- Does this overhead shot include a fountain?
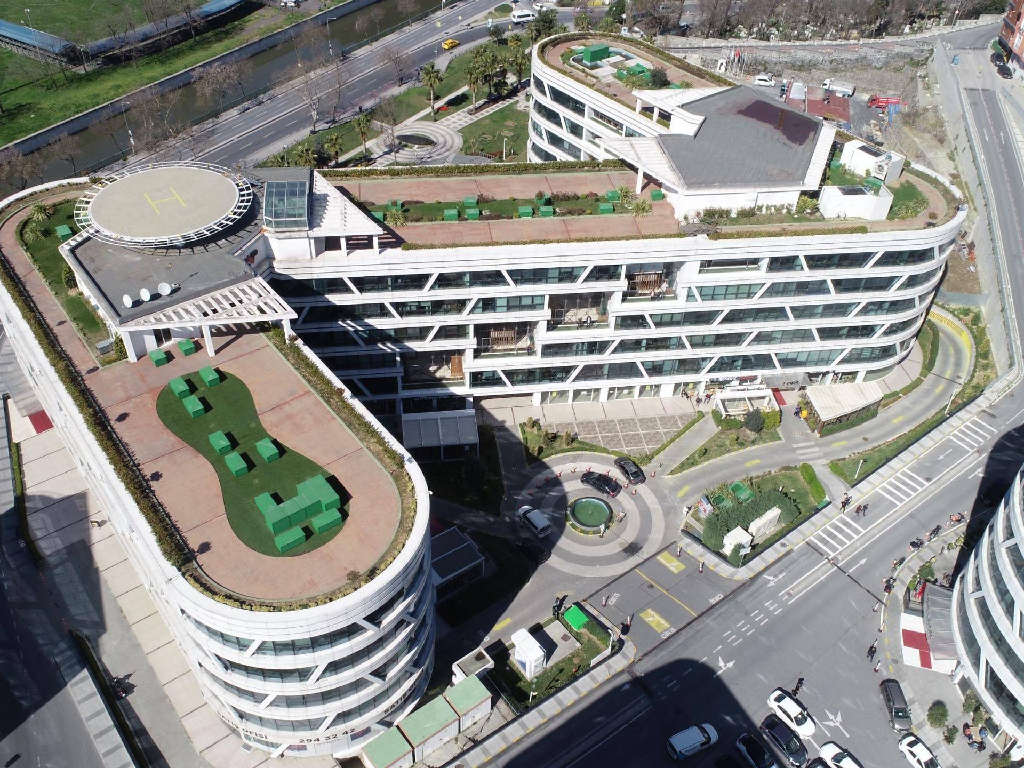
Yes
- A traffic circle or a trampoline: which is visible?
traffic circle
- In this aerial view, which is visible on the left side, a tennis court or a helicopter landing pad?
helicopter landing pad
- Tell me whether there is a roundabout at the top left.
No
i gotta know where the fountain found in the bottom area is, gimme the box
[558,490,623,539]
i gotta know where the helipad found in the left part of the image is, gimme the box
[75,160,262,246]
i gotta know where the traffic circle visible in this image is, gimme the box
[493,453,687,592]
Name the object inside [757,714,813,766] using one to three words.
car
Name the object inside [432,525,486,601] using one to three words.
building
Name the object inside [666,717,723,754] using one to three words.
car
